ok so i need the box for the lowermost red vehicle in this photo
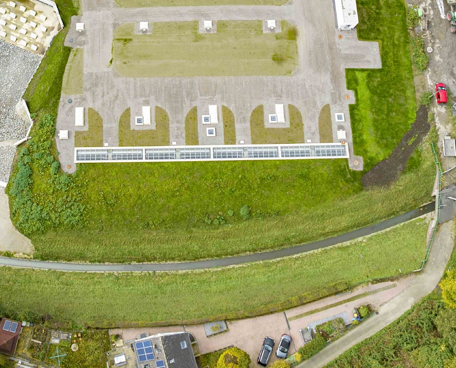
[434,83,449,106]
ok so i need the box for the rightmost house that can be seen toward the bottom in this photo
[100,325,197,368]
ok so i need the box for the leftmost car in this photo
[256,334,278,368]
